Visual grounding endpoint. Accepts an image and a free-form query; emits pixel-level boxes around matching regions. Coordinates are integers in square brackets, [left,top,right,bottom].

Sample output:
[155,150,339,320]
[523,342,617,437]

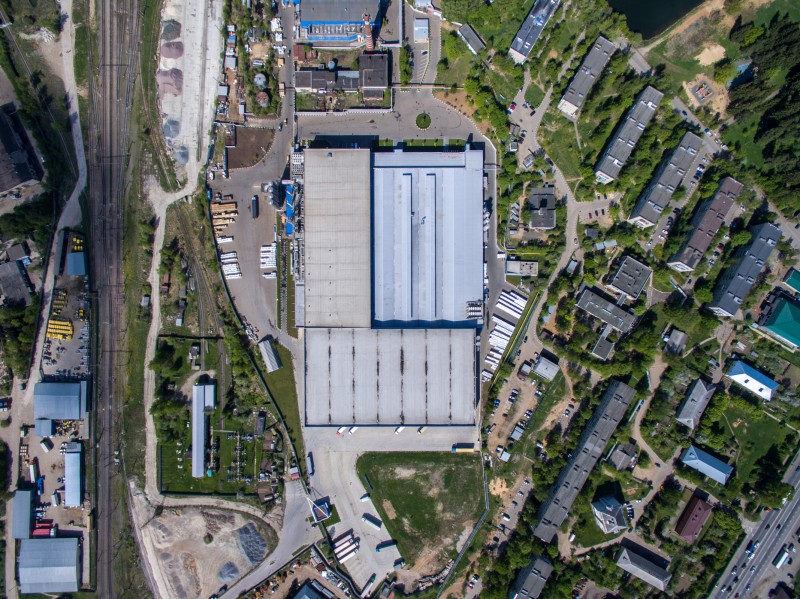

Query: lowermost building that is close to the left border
[17,533,85,593]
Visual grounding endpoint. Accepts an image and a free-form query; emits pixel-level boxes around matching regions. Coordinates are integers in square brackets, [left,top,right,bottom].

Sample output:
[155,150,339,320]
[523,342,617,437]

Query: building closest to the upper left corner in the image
[0,103,55,205]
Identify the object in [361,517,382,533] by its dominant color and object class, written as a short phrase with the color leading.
white vehicle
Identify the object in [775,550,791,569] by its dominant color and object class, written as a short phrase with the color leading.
white vehicle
